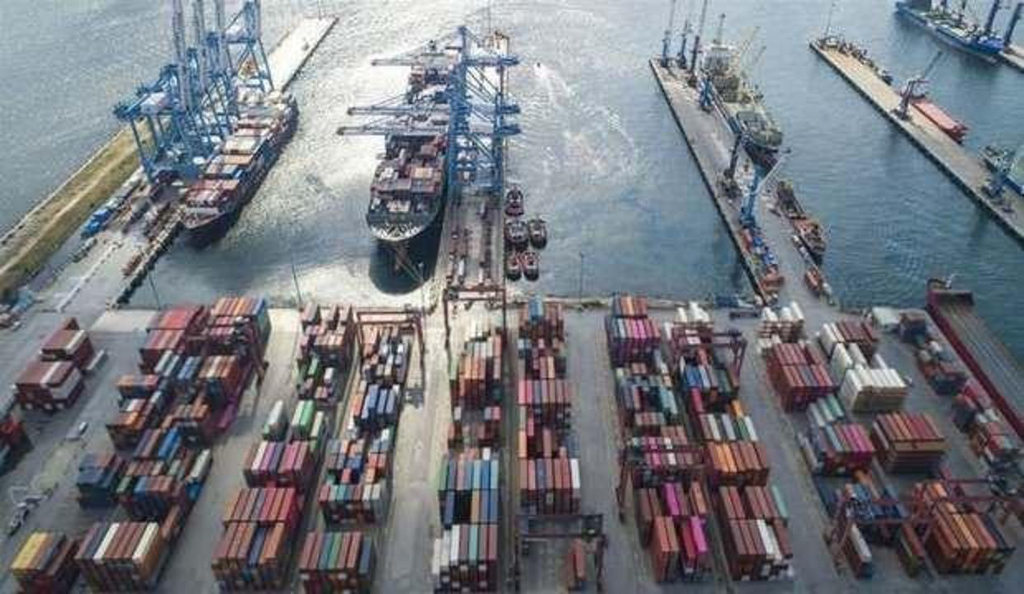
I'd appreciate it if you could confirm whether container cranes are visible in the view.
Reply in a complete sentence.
Yes, there's a container crane down there.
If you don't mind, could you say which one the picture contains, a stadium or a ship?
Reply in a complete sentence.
Visible in the photo is a ship.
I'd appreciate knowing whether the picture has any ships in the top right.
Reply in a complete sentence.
Yes, the scene does show a ship in the top right.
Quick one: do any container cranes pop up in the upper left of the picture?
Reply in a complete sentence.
Yes, in the upper left of the picture there is a container crane.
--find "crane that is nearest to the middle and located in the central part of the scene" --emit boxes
[442,282,511,344]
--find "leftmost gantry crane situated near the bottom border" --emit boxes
[513,510,614,594]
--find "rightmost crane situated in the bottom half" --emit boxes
[887,469,1024,550]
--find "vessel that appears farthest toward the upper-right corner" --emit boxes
[900,0,1012,72]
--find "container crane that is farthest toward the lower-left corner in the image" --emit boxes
[169,322,266,388]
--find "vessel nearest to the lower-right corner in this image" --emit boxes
[921,279,1024,433]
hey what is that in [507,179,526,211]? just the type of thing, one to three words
boat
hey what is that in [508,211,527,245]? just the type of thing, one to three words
boat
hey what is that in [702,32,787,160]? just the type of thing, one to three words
ship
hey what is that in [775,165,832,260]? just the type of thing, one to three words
ship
